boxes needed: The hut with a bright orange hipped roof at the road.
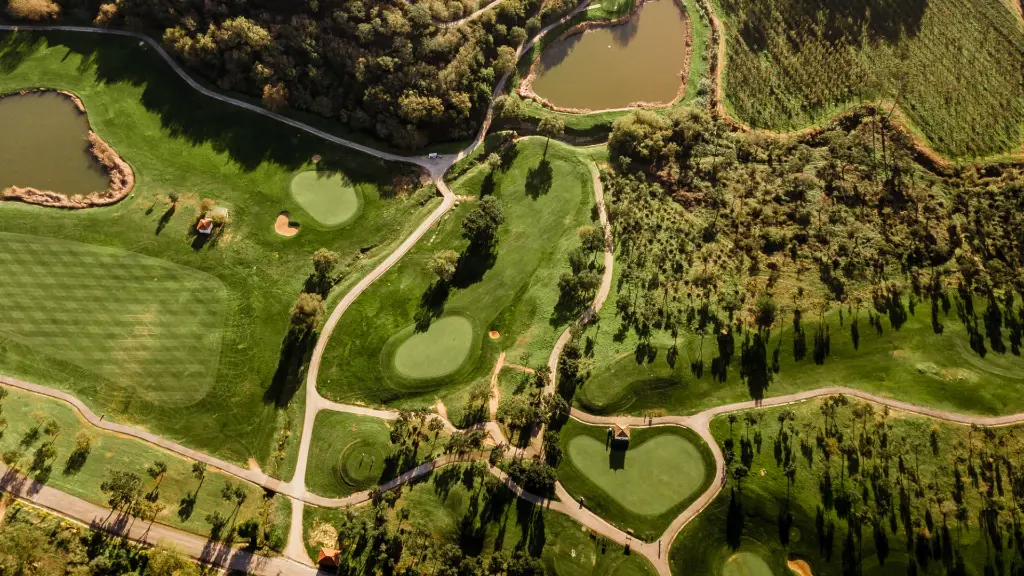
[316,548,341,571]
